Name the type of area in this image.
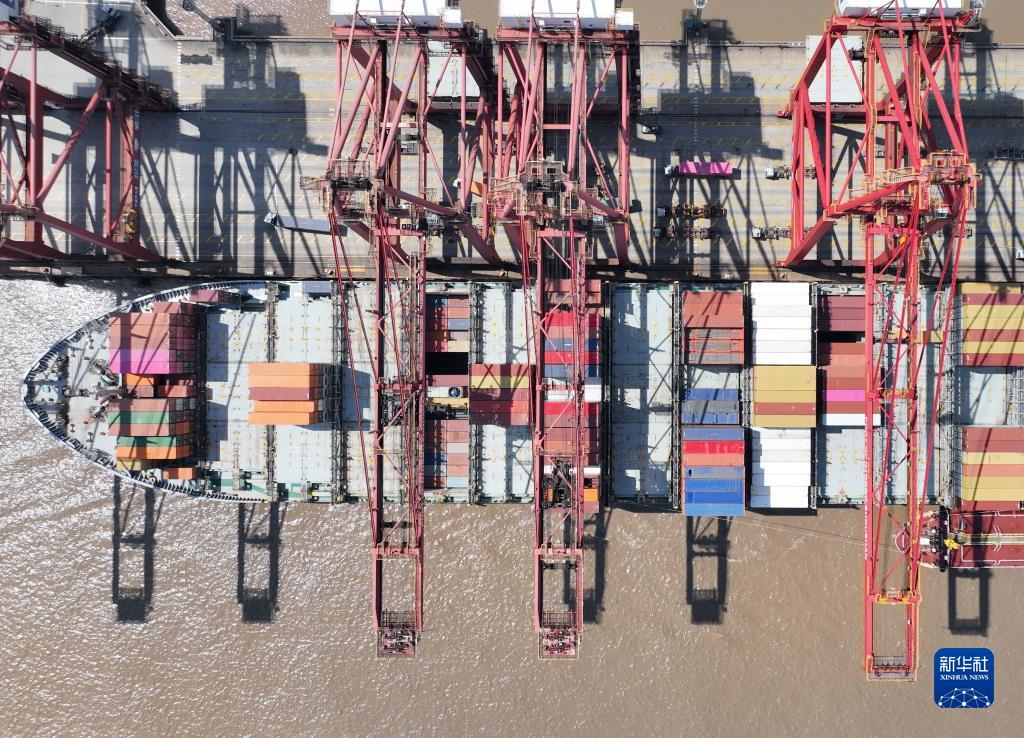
port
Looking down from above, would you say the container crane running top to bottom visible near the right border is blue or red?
red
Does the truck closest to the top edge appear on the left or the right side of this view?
left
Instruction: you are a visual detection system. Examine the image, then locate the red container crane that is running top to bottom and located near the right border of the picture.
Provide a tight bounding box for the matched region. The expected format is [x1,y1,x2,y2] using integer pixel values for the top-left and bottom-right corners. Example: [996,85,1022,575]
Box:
[769,0,980,685]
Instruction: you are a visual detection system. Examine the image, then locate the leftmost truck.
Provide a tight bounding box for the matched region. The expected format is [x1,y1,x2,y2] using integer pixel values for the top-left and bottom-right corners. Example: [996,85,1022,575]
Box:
[67,0,122,47]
